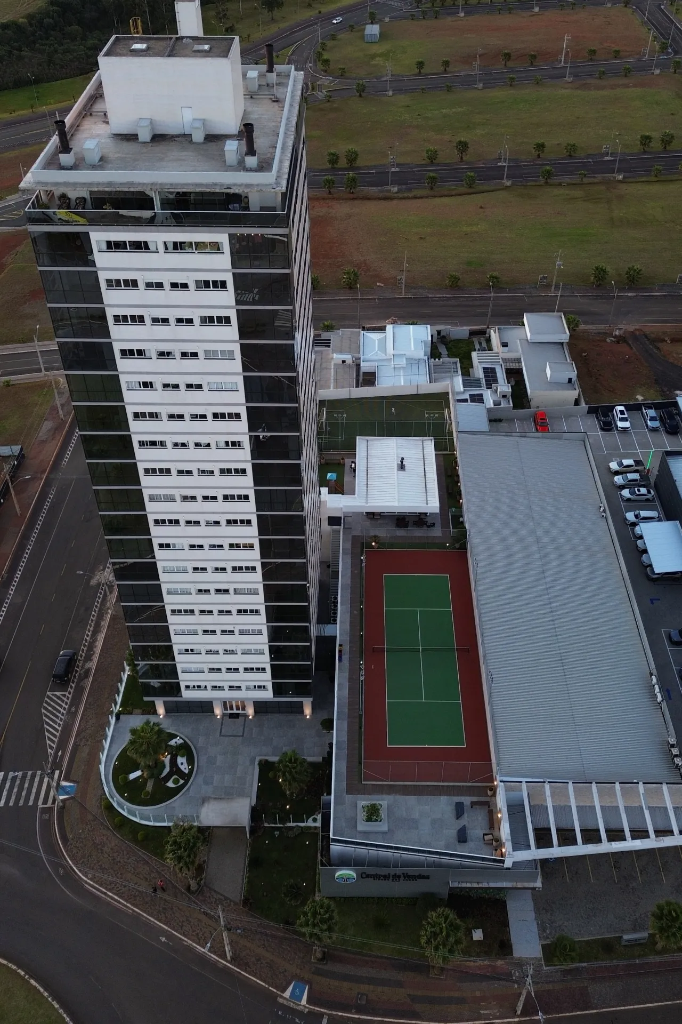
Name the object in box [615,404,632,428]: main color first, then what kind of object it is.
white car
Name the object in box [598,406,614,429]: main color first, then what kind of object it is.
black car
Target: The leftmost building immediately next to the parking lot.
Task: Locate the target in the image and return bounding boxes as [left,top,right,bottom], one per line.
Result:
[19,0,321,715]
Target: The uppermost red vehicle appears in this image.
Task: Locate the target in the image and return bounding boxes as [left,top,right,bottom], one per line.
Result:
[535,407,550,431]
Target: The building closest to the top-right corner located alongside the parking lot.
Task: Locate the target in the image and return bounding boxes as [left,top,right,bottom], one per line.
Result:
[494,313,577,407]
